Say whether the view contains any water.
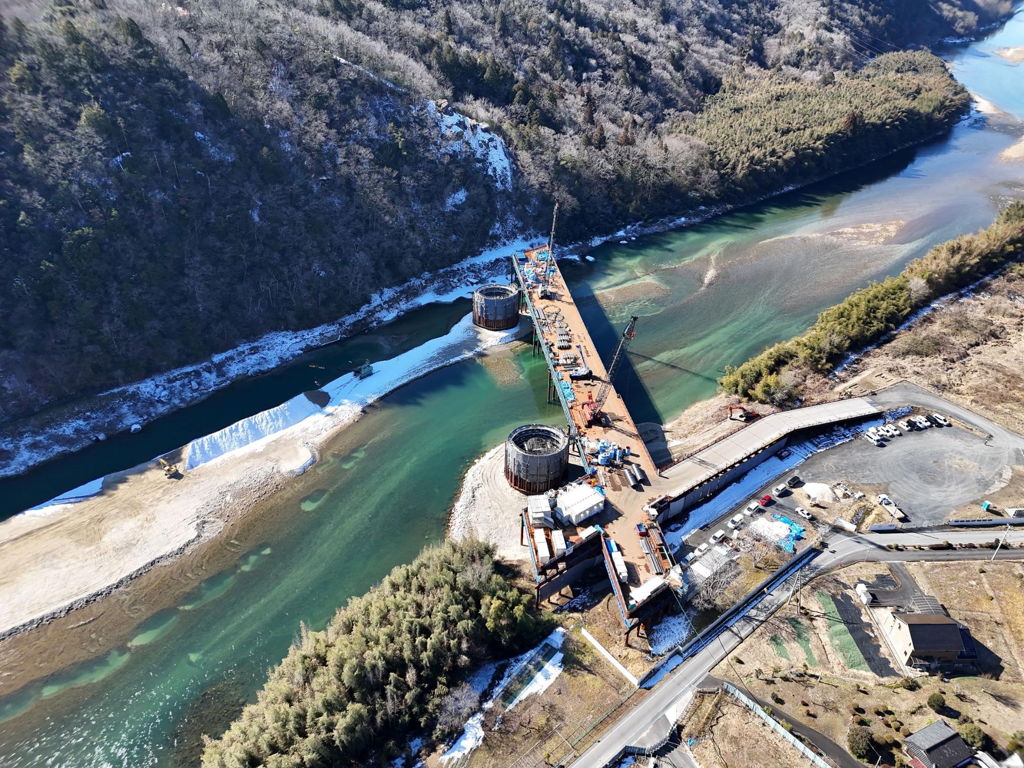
Yes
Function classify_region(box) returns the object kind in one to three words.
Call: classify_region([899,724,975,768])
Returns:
house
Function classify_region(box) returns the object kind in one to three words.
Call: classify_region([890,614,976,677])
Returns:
house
